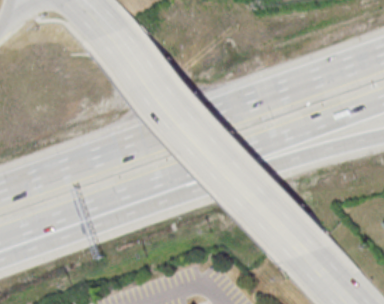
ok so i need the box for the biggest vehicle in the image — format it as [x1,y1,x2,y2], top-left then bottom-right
[334,104,364,120]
